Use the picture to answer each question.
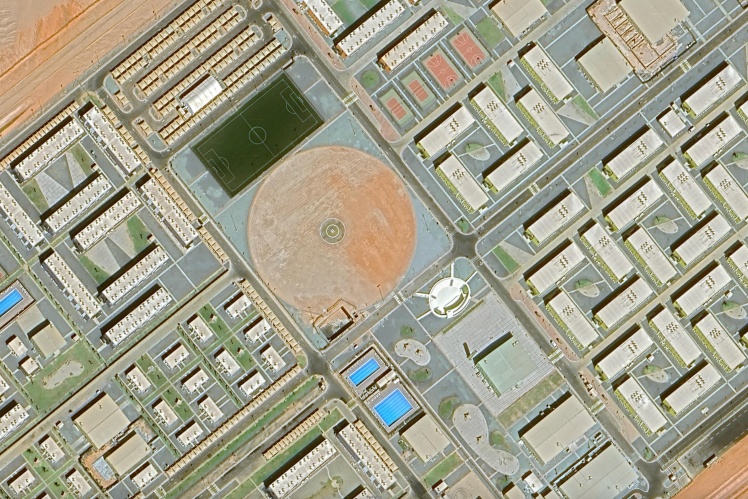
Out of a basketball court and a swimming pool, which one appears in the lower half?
swimming pool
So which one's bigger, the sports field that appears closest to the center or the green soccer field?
the sports field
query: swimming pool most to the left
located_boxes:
[0,280,29,321]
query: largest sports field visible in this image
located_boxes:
[249,147,416,313]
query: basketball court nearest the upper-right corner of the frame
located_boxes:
[445,24,492,75]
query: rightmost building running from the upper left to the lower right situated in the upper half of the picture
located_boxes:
[700,165,748,224]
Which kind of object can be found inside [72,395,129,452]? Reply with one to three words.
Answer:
building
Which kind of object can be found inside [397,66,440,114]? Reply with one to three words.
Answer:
sports court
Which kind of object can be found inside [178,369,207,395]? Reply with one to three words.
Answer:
house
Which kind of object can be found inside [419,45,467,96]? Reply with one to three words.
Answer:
basketball court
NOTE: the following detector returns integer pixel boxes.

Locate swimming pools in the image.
[0,280,29,321]
[343,351,386,392]
[367,381,417,432]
